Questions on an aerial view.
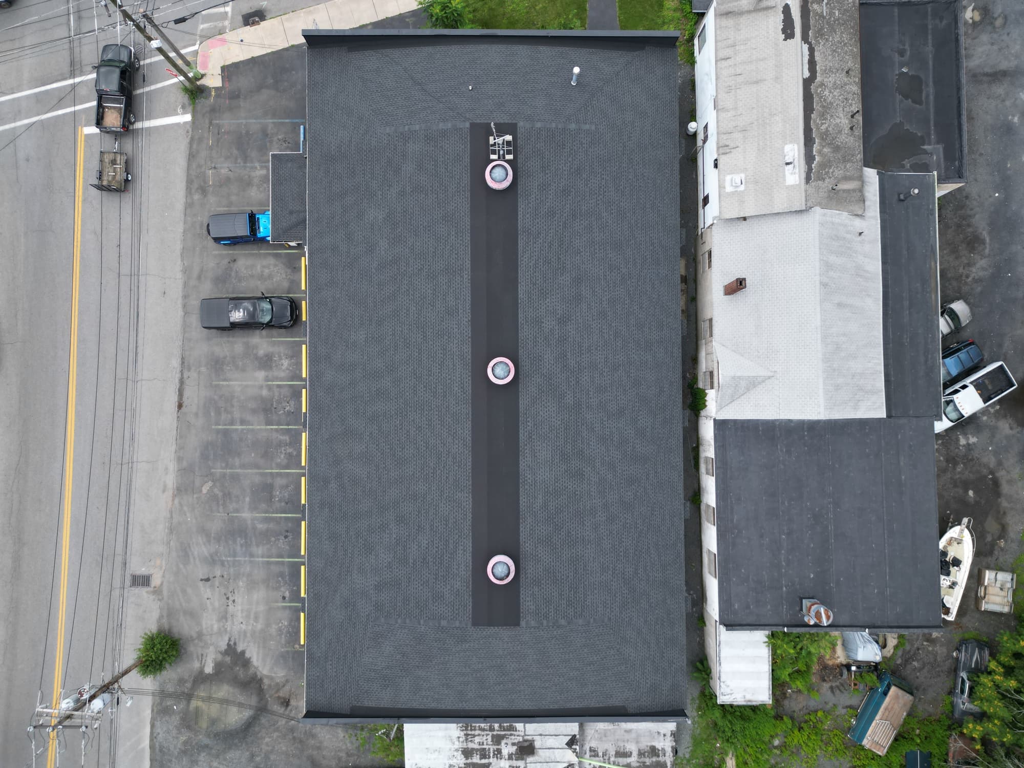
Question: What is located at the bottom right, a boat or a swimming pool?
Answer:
boat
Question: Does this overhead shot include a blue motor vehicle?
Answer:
Yes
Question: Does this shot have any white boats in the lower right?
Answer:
Yes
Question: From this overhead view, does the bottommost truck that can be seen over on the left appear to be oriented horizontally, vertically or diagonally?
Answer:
horizontally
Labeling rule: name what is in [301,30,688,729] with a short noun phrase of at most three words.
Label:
building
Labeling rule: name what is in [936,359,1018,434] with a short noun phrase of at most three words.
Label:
truck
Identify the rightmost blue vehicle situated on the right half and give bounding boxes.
[943,340,987,392]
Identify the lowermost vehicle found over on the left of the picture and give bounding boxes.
[200,290,301,333]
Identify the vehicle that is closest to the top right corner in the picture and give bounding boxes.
[942,298,975,341]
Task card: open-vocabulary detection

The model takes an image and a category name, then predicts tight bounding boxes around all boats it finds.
[940,516,983,622]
